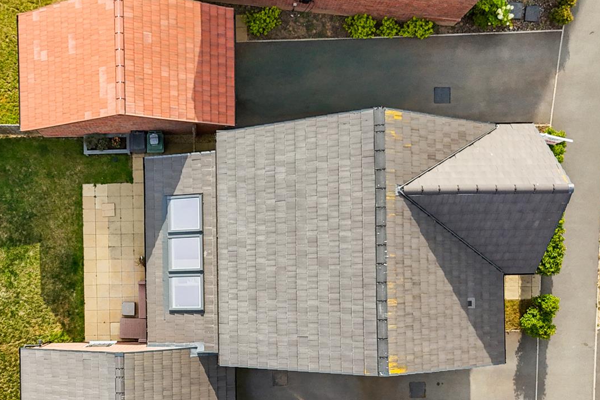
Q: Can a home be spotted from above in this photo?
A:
Yes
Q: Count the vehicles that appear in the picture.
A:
0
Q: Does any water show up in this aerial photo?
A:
No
